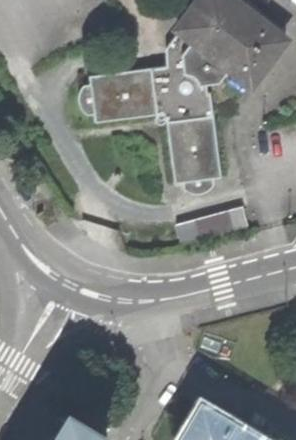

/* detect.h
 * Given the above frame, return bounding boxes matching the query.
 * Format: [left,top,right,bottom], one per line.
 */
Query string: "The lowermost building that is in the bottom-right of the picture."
[174,398,274,440]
